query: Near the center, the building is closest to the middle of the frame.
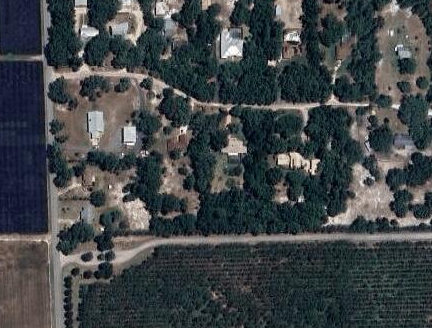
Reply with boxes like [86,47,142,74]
[220,135,247,164]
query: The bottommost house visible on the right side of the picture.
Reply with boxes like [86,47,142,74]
[267,152,321,176]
